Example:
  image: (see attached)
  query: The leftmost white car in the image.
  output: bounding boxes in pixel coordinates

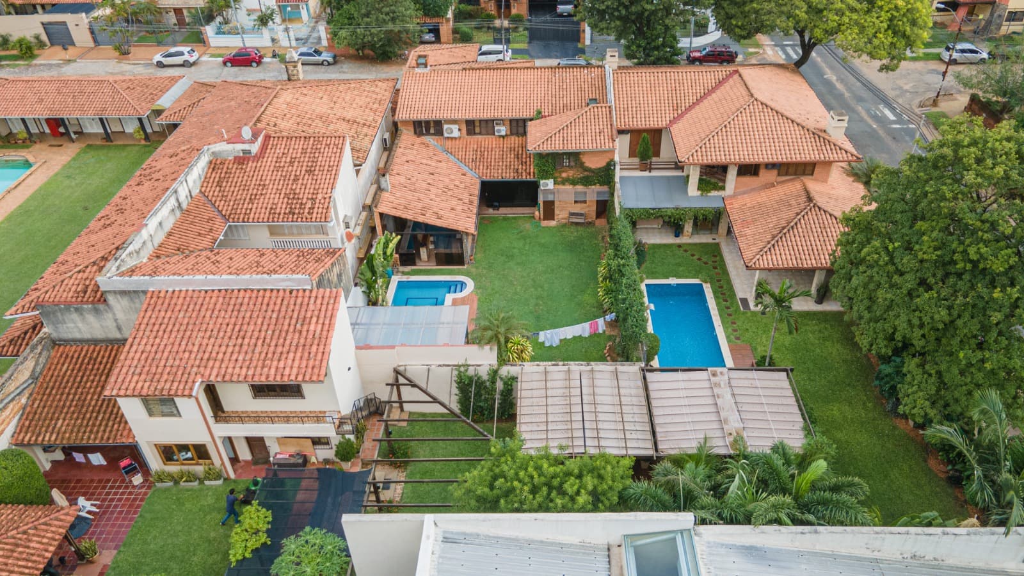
[153,46,201,67]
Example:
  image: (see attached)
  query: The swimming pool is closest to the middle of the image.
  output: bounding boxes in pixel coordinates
[383,275,478,337]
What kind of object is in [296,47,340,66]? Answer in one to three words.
car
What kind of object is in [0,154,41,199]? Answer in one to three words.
swimming pool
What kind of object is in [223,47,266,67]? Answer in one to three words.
car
